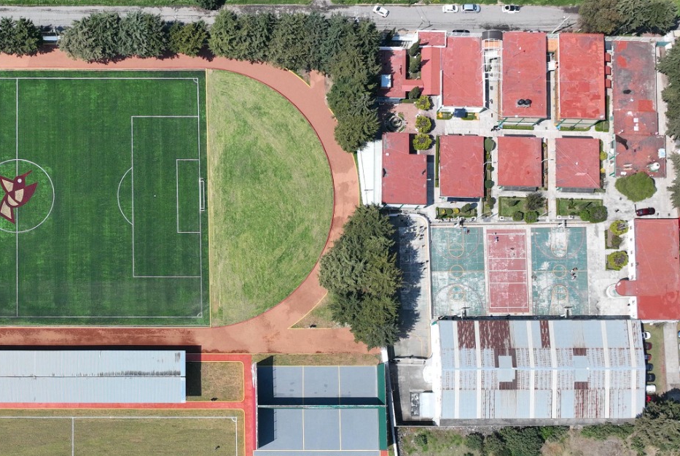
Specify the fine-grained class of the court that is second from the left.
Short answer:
basketball court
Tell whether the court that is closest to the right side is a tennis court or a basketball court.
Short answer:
basketball court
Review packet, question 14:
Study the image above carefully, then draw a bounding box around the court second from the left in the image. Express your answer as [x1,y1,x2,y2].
[433,227,485,316]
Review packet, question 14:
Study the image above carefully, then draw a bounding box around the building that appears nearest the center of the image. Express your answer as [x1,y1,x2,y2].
[380,133,427,209]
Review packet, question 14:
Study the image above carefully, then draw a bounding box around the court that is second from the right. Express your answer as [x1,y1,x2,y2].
[486,229,529,312]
